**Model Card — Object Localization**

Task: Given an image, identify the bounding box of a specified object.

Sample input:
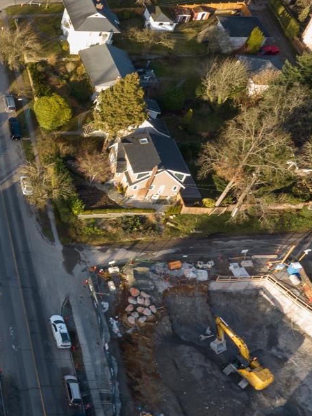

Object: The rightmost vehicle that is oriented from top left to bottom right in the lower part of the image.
[197,330,285,394]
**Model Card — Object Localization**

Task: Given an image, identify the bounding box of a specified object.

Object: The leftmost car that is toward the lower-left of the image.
[51,317,74,353]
